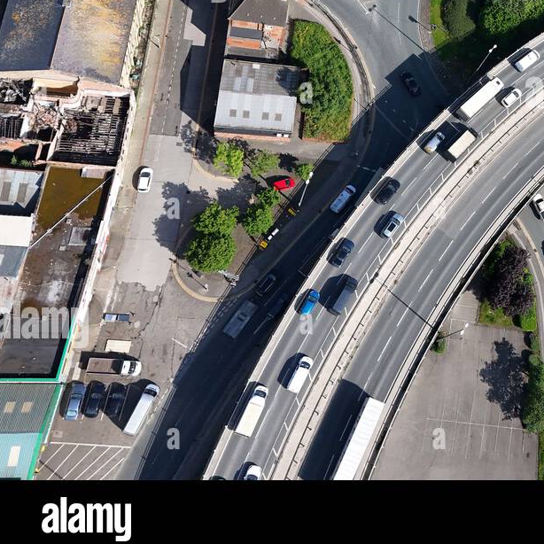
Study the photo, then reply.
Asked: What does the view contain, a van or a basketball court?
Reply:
van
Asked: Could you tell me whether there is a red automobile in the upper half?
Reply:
Yes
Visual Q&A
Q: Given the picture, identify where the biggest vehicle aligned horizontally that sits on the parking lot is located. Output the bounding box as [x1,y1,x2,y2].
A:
[84,357,146,377]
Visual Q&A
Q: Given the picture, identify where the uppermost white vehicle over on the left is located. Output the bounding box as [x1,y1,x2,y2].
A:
[137,167,154,196]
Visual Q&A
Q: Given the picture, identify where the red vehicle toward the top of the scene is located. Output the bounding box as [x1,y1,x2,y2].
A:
[271,174,300,192]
